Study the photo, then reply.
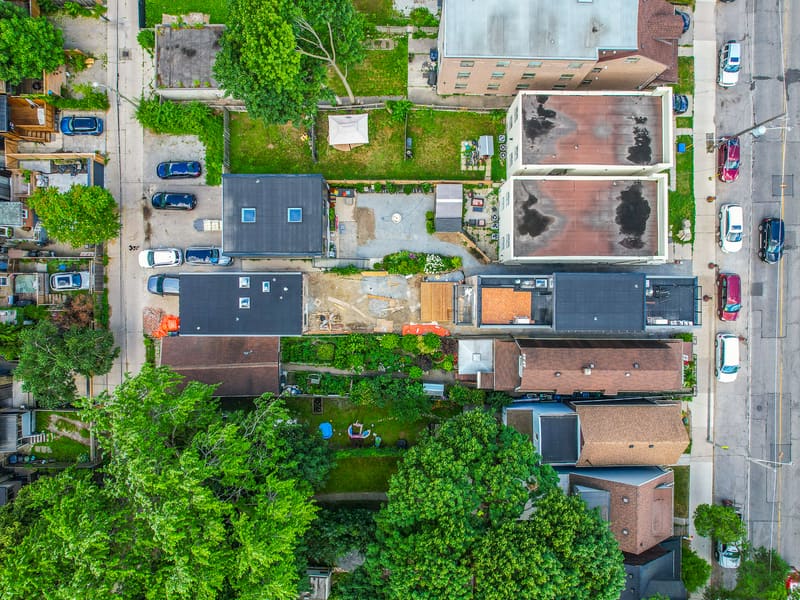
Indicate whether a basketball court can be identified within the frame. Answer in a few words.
No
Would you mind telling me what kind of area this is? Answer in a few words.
residential area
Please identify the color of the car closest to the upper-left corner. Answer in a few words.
blue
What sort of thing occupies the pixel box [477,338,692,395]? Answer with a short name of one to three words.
house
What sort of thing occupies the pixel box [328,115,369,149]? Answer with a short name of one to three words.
gazebo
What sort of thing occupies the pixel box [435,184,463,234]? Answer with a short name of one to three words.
shed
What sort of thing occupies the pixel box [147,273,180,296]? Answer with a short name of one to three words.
car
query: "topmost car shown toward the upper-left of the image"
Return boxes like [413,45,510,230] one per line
[60,113,105,138]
